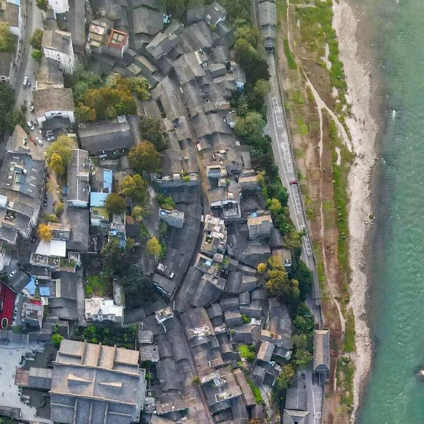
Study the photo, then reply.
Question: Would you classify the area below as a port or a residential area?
residential area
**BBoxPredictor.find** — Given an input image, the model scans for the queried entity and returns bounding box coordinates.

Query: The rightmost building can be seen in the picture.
[312,330,330,372]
